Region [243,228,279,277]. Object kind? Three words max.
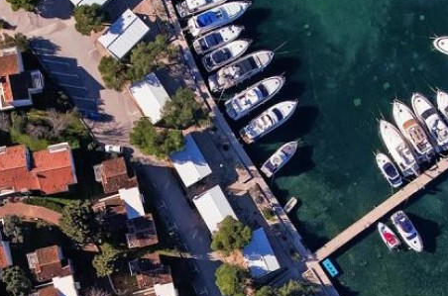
building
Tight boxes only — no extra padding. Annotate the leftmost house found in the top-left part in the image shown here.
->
[0,48,46,113]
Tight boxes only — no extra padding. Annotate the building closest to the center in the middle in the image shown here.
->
[168,142,211,187]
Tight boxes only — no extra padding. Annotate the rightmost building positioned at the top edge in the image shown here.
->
[97,8,149,58]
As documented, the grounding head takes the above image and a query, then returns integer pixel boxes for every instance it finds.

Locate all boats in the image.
[380,120,418,180]
[413,92,448,154]
[377,223,399,250]
[200,39,251,72]
[393,95,434,164]
[223,71,294,122]
[175,0,219,19]
[377,154,403,192]
[205,51,273,92]
[259,140,297,179]
[189,26,244,55]
[236,99,298,144]
[185,0,251,39]
[389,208,433,261]
[283,197,295,212]
[431,86,448,121]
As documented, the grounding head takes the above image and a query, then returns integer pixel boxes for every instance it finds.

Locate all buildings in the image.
[129,254,176,296]
[0,219,13,272]
[27,245,82,296]
[93,157,158,248]
[193,185,233,233]
[243,228,279,277]
[130,72,168,125]
[0,142,77,197]
[97,8,149,58]
[0,48,46,113]
[168,142,211,187]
